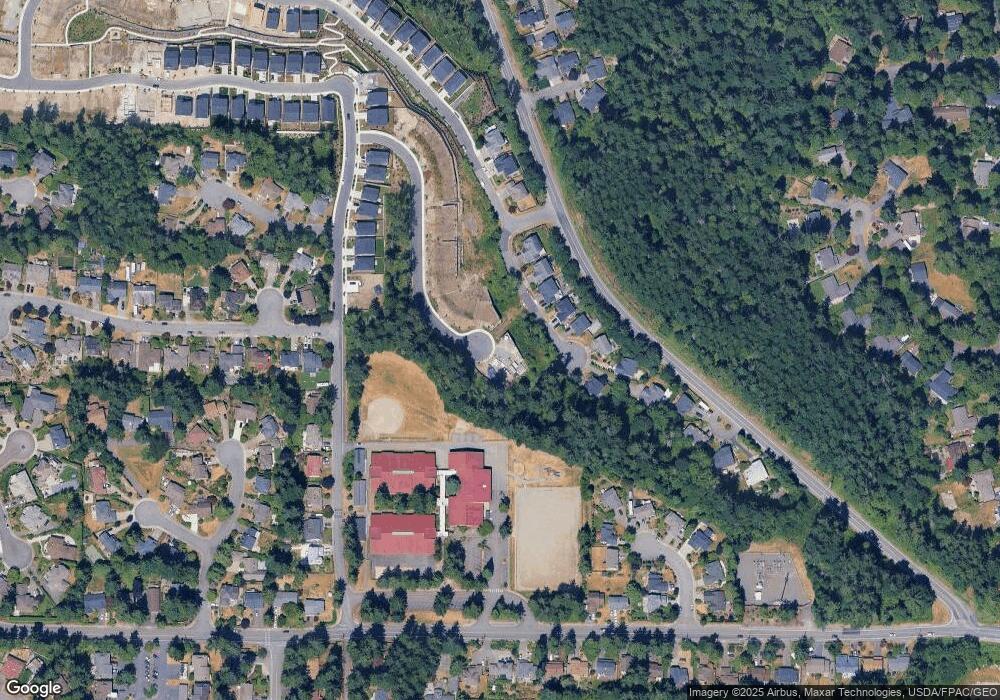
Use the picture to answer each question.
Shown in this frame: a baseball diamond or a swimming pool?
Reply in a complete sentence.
This aerial view contains a baseball diamond.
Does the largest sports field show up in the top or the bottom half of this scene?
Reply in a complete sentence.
It is in the bottom half that the largest sports field appears.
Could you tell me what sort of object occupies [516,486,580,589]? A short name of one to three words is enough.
sports field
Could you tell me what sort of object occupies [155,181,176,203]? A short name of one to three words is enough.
house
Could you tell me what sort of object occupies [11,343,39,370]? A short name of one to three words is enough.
house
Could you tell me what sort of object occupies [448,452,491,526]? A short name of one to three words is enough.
building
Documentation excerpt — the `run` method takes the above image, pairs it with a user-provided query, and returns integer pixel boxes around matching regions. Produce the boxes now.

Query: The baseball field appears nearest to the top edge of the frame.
[366,398,404,435]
